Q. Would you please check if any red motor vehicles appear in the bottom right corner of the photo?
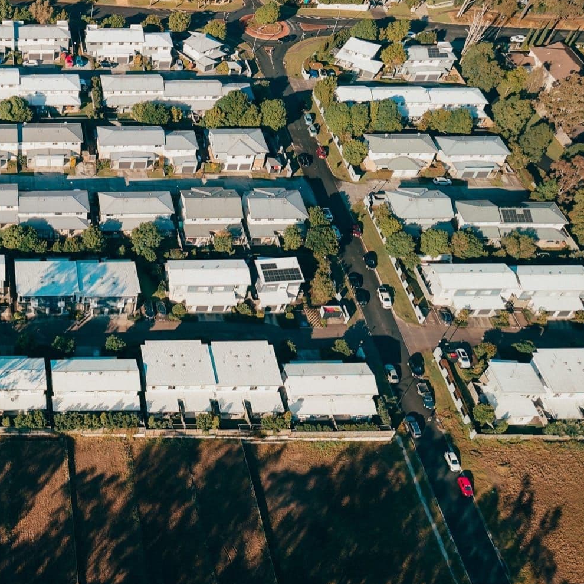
Yes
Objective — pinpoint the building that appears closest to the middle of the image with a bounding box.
[251,258,306,312]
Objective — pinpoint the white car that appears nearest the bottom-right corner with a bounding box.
[442,449,462,473]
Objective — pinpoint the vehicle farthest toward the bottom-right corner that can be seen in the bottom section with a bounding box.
[455,473,476,499]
